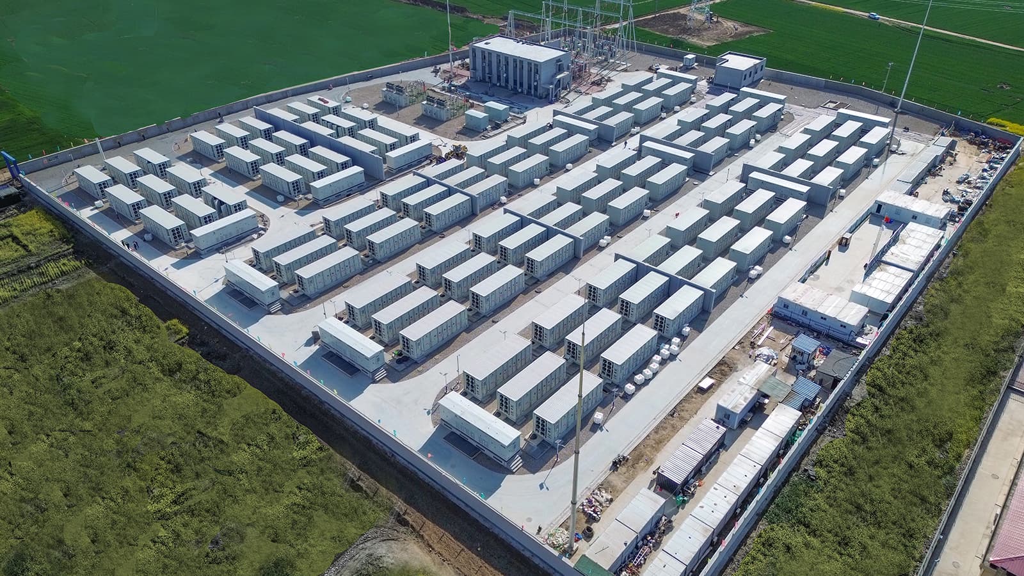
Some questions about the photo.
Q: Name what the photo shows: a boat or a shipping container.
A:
shipping container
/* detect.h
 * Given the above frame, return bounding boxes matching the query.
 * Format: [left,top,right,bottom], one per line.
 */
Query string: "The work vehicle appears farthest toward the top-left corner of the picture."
[433,138,464,163]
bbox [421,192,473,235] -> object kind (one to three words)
shipping container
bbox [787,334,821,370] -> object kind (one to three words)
shed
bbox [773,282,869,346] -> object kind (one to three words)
building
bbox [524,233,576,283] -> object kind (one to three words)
shipping container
